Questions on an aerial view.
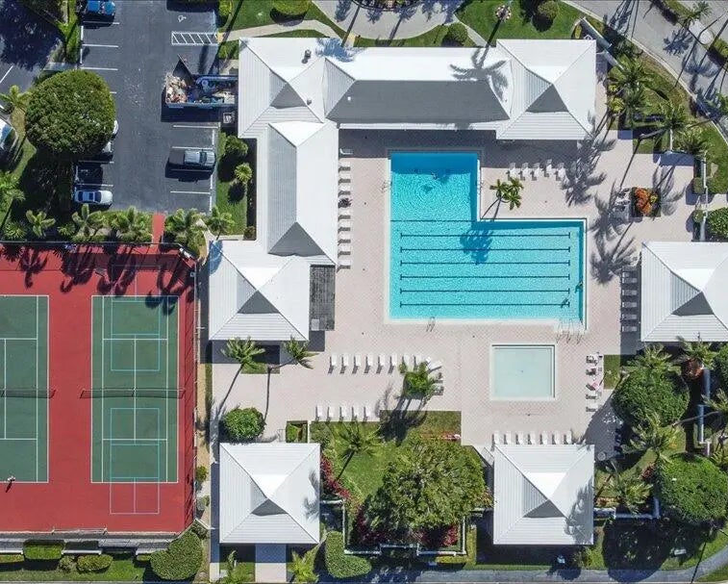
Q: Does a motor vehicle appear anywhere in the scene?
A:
Yes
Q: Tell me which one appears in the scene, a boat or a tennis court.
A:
tennis court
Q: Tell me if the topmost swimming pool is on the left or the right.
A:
right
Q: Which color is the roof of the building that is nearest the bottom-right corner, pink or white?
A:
white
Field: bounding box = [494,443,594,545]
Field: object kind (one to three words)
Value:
building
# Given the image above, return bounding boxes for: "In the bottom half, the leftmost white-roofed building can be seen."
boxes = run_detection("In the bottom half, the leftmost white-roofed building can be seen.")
[220,443,320,543]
